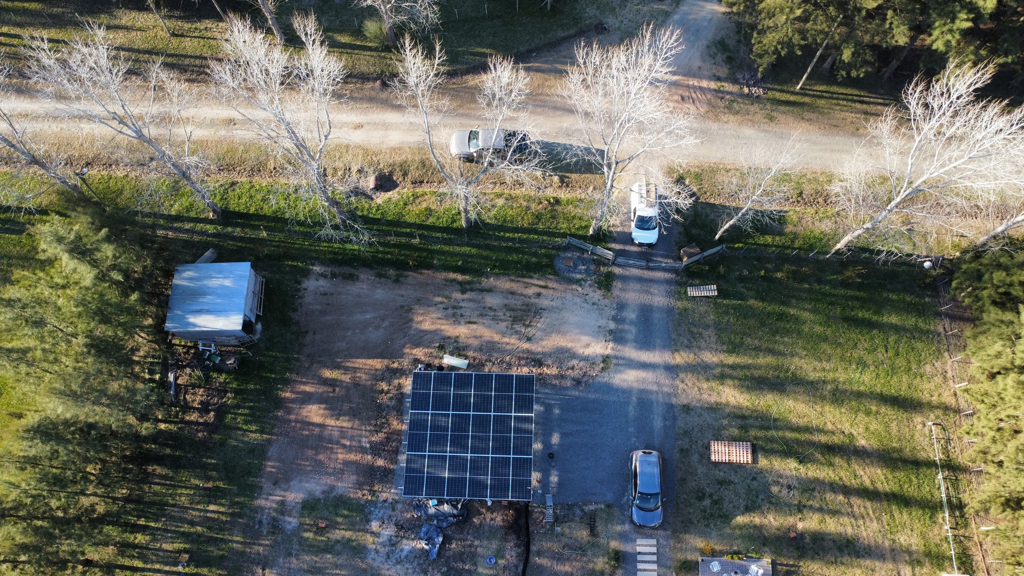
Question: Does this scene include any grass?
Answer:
Yes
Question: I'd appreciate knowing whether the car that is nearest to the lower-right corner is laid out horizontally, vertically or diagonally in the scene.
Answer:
vertically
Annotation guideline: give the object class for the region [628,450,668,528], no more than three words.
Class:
car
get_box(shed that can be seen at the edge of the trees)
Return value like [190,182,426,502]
[165,262,273,338]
